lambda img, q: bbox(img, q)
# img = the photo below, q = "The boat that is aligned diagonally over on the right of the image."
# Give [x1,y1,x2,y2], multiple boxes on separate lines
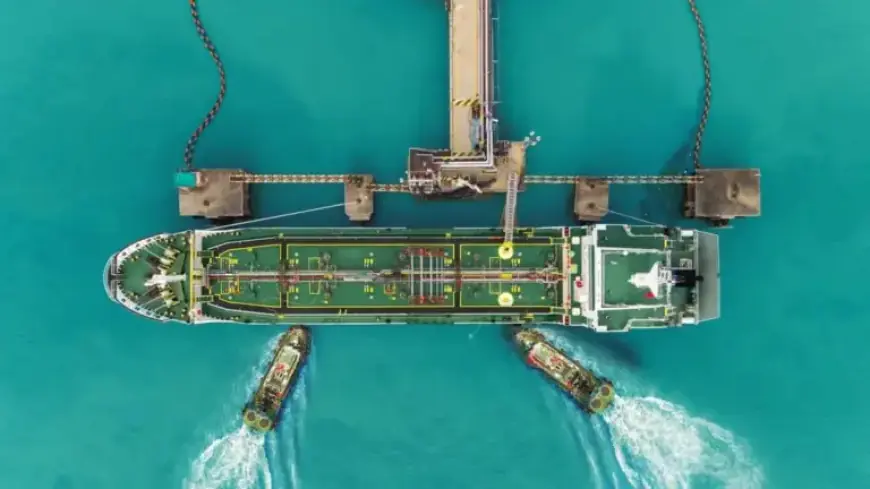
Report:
[516,329,615,418]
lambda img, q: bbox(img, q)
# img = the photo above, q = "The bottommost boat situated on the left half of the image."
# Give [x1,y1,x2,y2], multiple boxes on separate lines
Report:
[243,325,310,430]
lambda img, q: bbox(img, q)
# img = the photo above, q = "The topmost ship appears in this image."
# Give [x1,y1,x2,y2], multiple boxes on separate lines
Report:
[104,223,725,332]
